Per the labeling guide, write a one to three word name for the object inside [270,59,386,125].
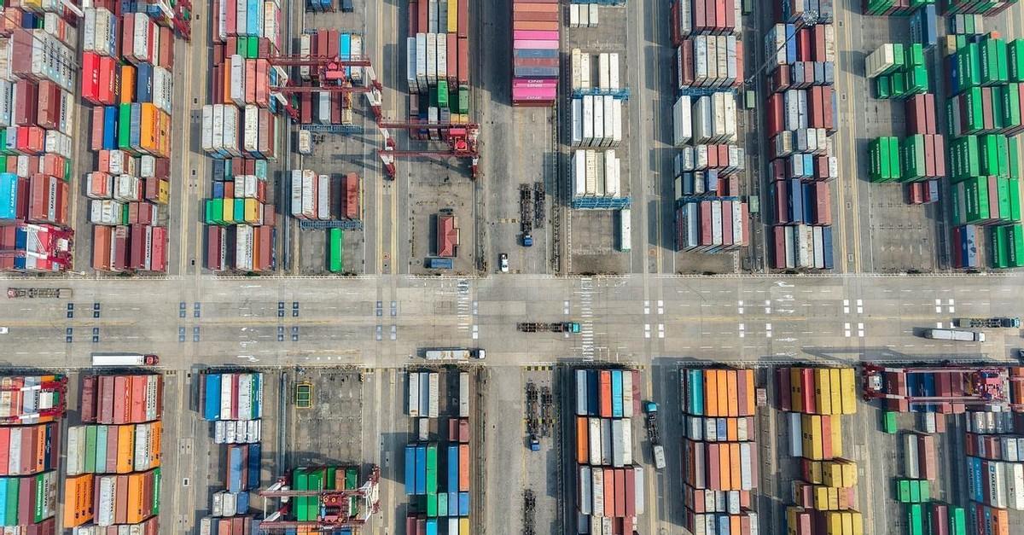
container crane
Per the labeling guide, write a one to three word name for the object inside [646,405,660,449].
vehicle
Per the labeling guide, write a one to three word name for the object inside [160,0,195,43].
container crane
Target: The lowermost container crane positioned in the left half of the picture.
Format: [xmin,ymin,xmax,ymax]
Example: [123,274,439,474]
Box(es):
[258,464,381,528]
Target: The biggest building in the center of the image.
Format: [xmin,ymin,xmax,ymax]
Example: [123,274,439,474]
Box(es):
[437,215,460,257]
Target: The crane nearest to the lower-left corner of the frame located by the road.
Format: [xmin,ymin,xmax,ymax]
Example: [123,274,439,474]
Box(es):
[0,373,69,422]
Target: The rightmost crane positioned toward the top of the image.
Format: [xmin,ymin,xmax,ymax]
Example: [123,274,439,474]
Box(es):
[377,120,479,183]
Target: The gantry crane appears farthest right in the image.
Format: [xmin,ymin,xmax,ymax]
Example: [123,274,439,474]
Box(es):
[960,373,1024,408]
